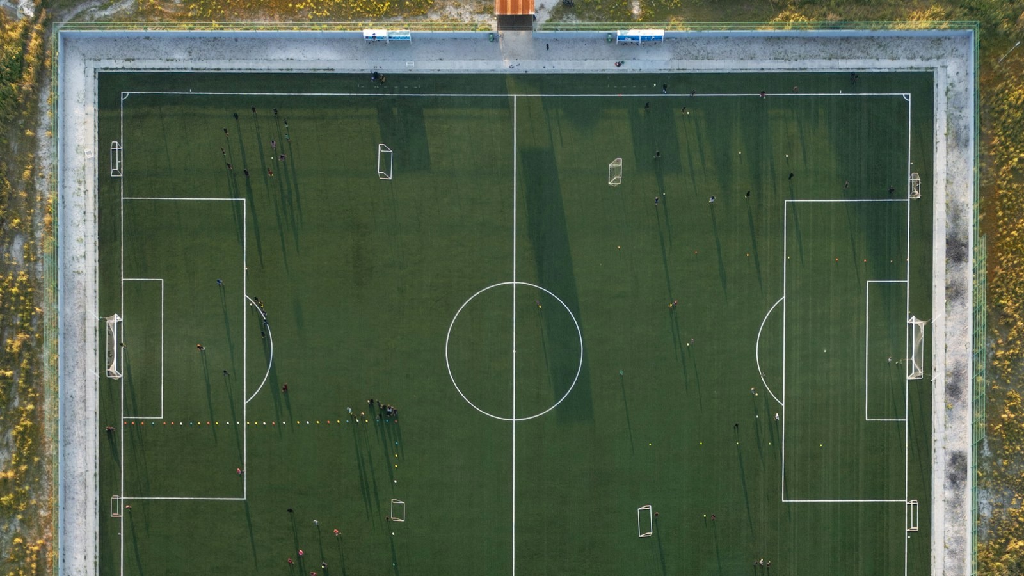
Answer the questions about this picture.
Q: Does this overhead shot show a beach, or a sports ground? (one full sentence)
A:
What you see here is a sports ground.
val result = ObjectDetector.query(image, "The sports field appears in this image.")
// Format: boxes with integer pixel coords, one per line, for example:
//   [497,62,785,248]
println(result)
[98,72,934,576]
